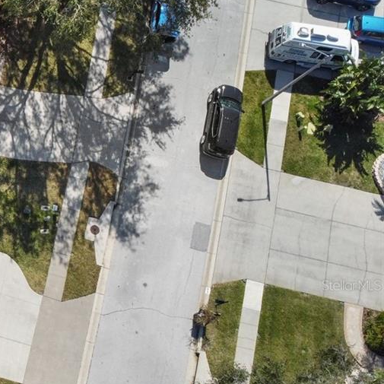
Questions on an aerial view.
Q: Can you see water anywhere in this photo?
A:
No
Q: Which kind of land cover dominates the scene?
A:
paved ground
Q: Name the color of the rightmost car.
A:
blue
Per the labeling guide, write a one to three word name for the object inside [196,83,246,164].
car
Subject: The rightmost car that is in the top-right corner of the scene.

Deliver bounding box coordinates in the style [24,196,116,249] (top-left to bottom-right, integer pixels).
[348,14,384,51]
